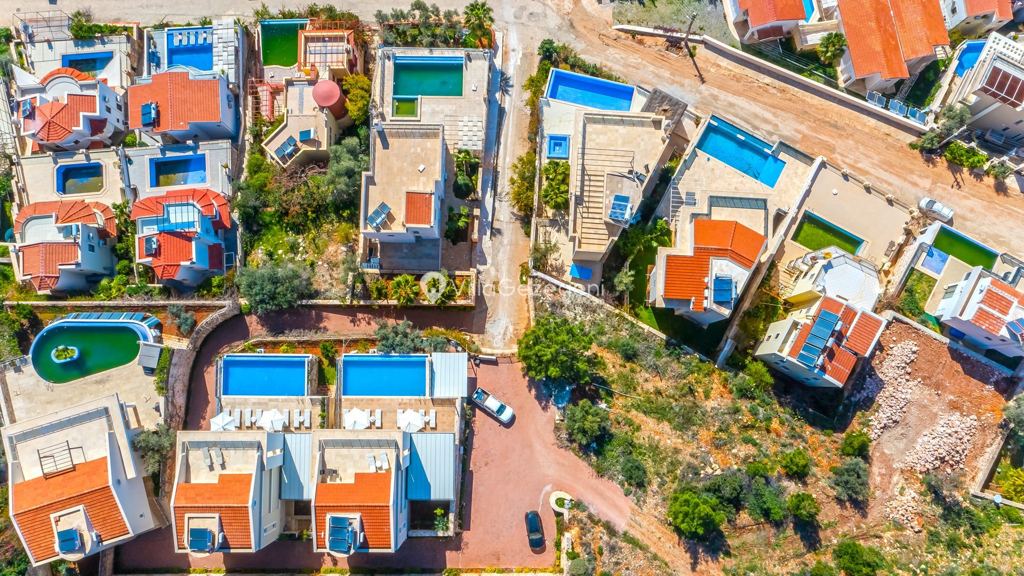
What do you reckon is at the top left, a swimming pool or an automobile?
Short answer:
swimming pool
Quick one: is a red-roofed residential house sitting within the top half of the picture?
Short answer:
Yes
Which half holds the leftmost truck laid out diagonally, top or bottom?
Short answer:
bottom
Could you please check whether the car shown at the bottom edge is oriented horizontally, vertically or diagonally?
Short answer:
vertically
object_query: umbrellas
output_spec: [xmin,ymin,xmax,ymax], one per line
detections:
[342,404,372,430]
[259,405,288,432]
[397,406,426,433]
[211,408,237,430]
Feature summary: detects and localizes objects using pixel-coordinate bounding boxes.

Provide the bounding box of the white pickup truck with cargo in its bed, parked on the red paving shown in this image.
[470,386,517,426]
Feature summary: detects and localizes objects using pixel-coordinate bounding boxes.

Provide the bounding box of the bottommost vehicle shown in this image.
[525,510,545,553]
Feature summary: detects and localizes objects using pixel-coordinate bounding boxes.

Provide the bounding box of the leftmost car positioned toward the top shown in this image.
[919,193,963,225]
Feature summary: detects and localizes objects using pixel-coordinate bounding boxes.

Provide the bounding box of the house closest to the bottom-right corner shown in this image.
[923,266,1024,360]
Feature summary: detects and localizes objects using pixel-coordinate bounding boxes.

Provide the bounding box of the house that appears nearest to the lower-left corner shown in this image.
[1,393,166,567]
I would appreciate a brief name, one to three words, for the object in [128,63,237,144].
house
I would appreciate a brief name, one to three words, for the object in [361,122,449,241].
house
